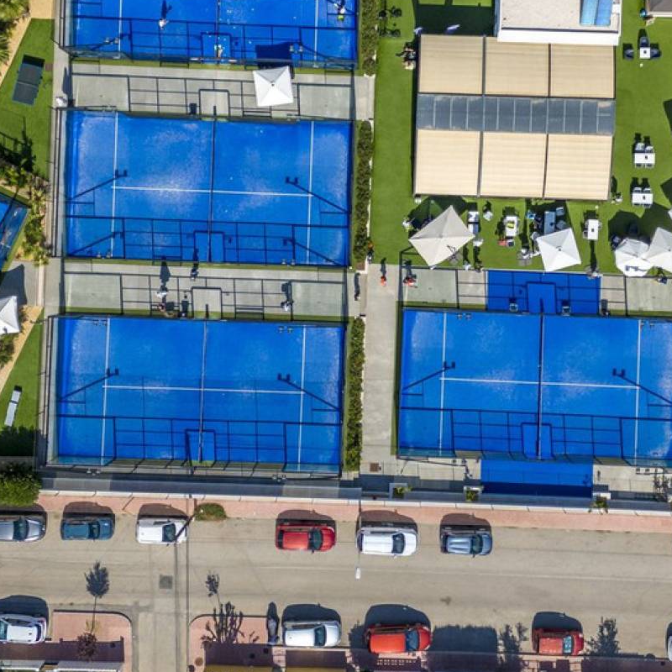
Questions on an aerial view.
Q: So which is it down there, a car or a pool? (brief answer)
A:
car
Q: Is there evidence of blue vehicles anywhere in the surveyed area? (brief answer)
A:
Yes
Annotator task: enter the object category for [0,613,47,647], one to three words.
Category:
car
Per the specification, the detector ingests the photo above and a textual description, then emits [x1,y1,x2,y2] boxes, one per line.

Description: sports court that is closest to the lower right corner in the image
[388,300,672,477]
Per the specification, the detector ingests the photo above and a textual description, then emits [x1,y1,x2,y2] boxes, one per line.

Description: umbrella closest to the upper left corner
[252,65,294,107]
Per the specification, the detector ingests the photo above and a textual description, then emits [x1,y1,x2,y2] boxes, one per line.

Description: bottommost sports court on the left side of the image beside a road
[40,303,355,481]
